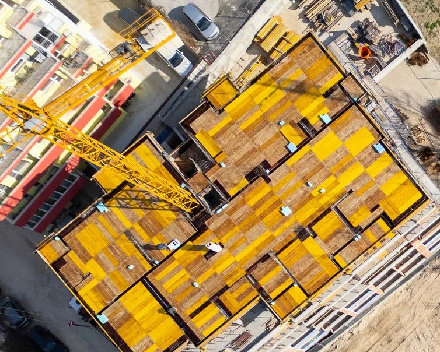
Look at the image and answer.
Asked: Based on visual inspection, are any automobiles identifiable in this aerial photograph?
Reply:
Yes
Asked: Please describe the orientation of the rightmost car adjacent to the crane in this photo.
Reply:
at an angle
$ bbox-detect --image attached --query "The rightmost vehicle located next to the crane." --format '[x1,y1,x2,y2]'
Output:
[182,1,219,40]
